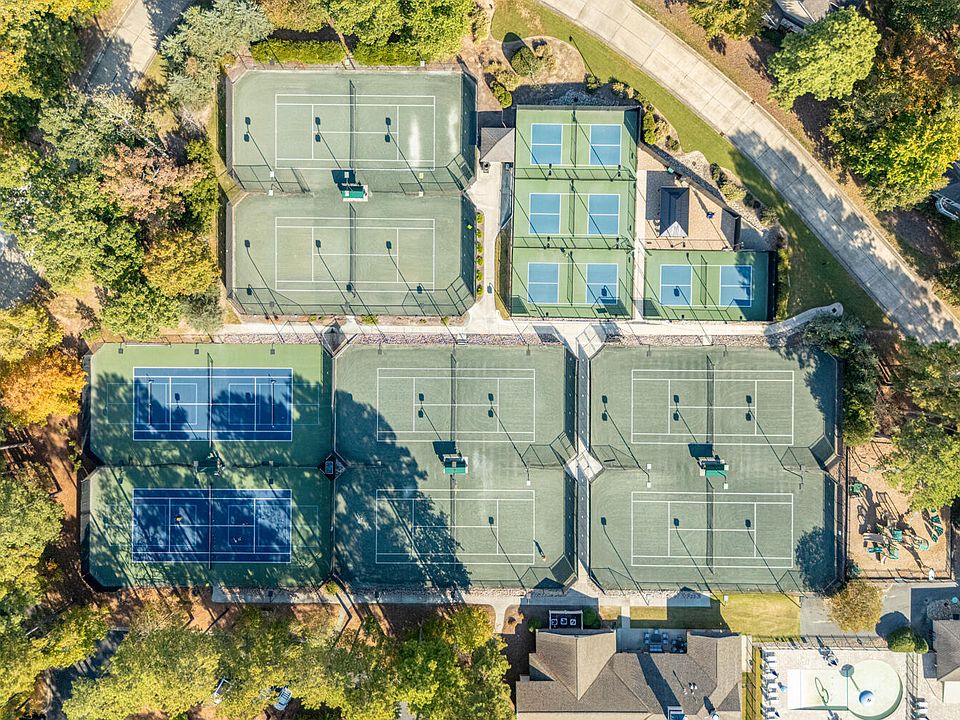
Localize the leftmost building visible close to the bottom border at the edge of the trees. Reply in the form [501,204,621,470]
[517,624,741,720]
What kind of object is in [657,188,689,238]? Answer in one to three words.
building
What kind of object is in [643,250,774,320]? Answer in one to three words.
sports court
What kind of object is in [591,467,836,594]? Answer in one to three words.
tennis court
